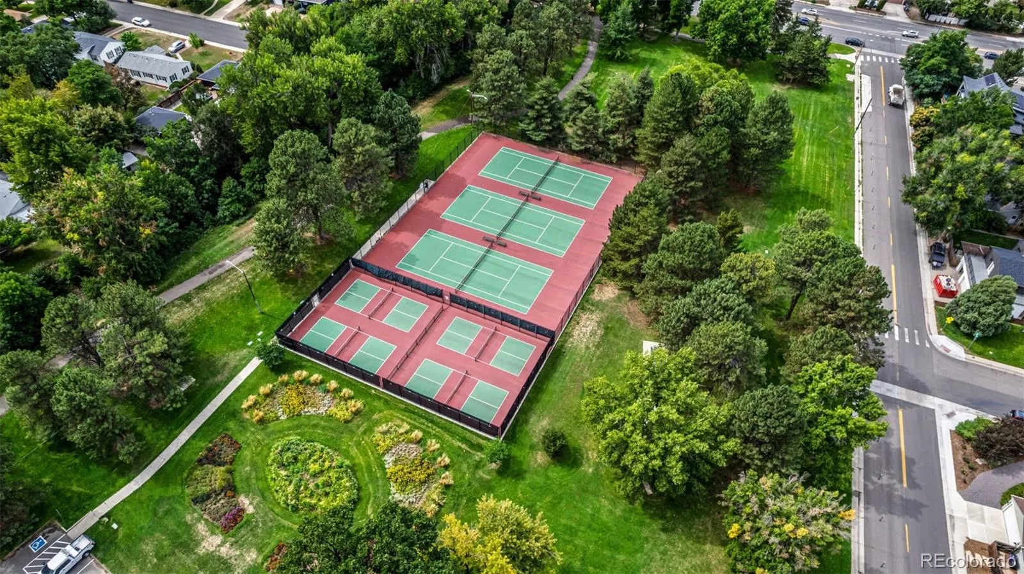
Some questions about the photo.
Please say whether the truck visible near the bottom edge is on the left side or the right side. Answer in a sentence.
The truck visible near the bottom edge appears in the left half of the scene.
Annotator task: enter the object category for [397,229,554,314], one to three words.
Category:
tennis court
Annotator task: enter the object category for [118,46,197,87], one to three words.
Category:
house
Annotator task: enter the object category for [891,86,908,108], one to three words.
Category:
vehicle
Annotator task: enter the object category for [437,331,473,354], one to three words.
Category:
sports court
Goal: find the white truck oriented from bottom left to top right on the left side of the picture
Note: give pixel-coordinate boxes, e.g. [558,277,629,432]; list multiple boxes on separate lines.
[43,536,99,574]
